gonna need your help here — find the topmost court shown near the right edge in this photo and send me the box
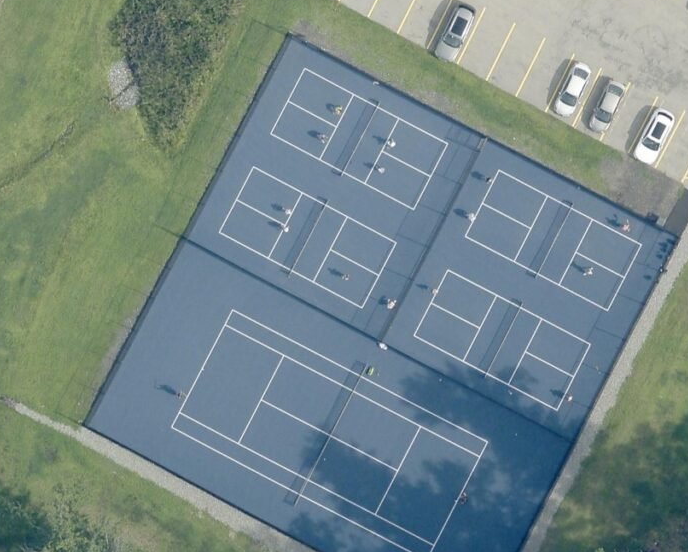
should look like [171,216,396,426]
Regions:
[434,137,676,338]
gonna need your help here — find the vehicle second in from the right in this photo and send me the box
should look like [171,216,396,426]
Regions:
[587,79,626,132]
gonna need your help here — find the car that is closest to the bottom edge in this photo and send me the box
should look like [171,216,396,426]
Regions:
[634,107,675,164]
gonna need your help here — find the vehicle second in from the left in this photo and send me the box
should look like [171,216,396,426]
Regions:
[553,61,594,116]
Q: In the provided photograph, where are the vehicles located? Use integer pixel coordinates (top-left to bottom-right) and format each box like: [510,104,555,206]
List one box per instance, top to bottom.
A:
[435,5,477,61]
[553,61,594,116]
[587,79,626,132]
[634,107,675,164]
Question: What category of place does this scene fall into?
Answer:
sports ground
